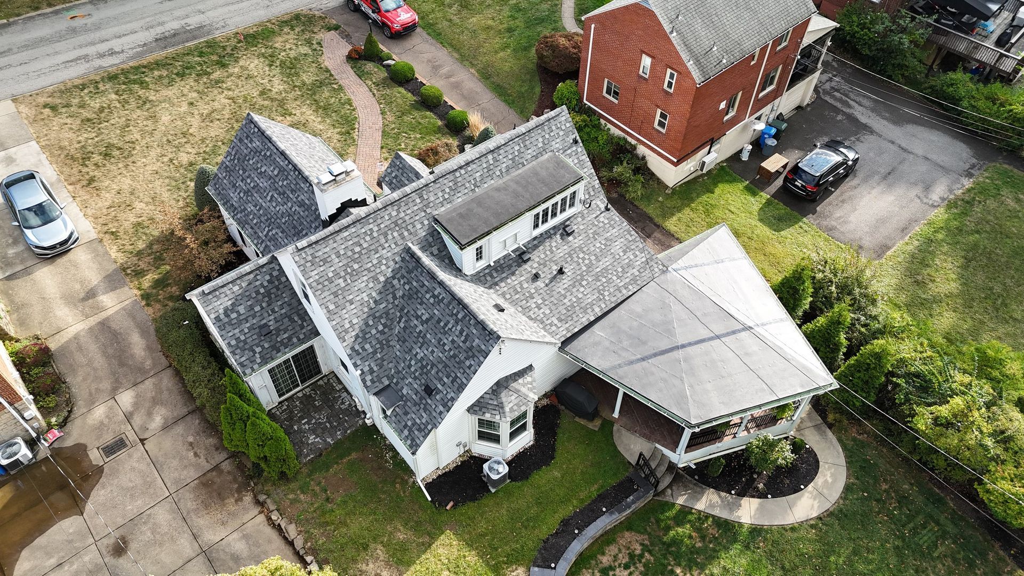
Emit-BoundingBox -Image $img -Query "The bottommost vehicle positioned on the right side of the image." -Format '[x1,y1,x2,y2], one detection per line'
[782,138,862,201]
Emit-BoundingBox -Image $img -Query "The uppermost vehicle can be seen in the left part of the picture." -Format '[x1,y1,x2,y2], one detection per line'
[343,0,415,40]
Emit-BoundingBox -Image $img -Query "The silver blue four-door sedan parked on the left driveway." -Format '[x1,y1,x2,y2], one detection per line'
[2,173,75,253]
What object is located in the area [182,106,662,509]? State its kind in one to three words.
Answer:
house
